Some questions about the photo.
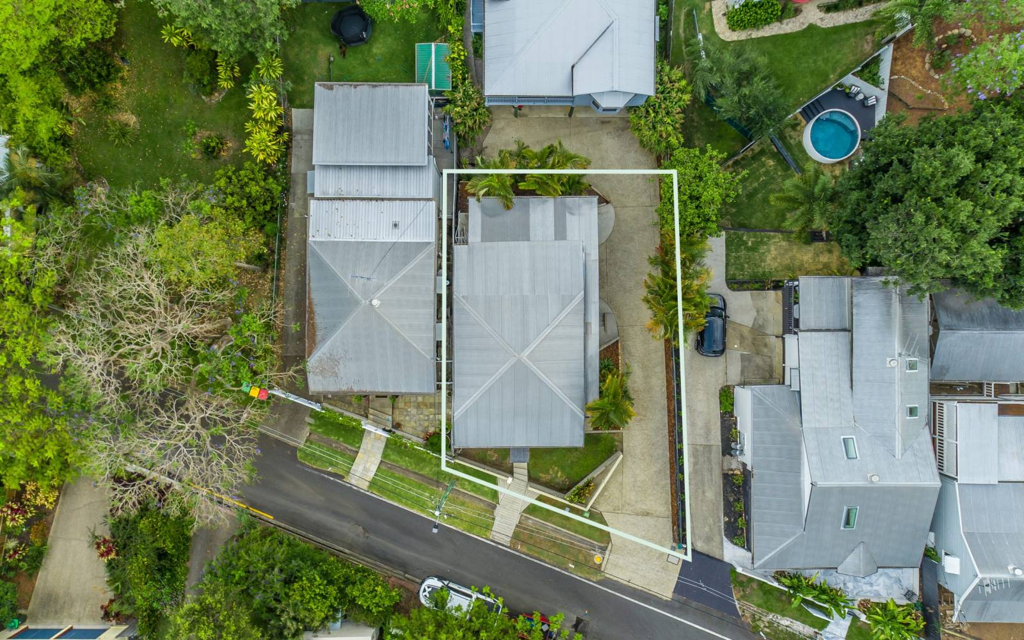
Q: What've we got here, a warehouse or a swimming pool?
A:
swimming pool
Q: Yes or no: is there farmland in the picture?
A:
No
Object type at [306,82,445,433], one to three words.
house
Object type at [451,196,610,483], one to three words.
house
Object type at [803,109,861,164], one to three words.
swimming pool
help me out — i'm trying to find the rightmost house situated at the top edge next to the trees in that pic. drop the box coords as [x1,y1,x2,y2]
[471,0,659,120]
